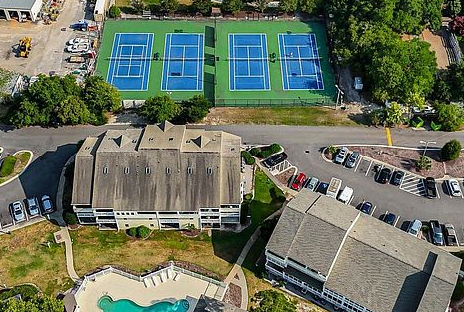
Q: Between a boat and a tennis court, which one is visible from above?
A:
tennis court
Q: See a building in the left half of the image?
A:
Yes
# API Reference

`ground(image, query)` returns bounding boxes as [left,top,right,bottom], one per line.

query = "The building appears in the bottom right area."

[265,188,464,312]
